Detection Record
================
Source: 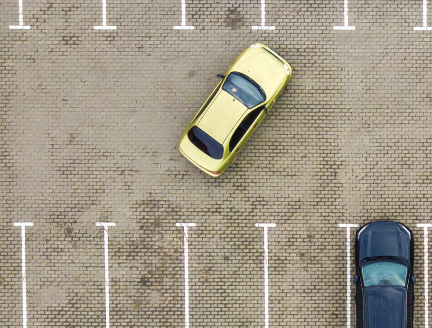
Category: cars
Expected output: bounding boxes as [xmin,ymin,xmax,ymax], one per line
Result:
[351,220,419,328]
[177,42,292,176]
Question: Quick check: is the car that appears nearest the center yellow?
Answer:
Yes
